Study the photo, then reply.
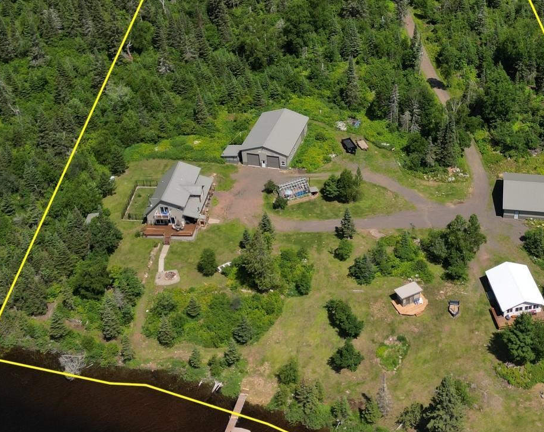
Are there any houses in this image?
Yes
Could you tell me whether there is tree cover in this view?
Yes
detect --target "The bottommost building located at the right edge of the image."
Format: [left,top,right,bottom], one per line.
[486,266,544,316]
